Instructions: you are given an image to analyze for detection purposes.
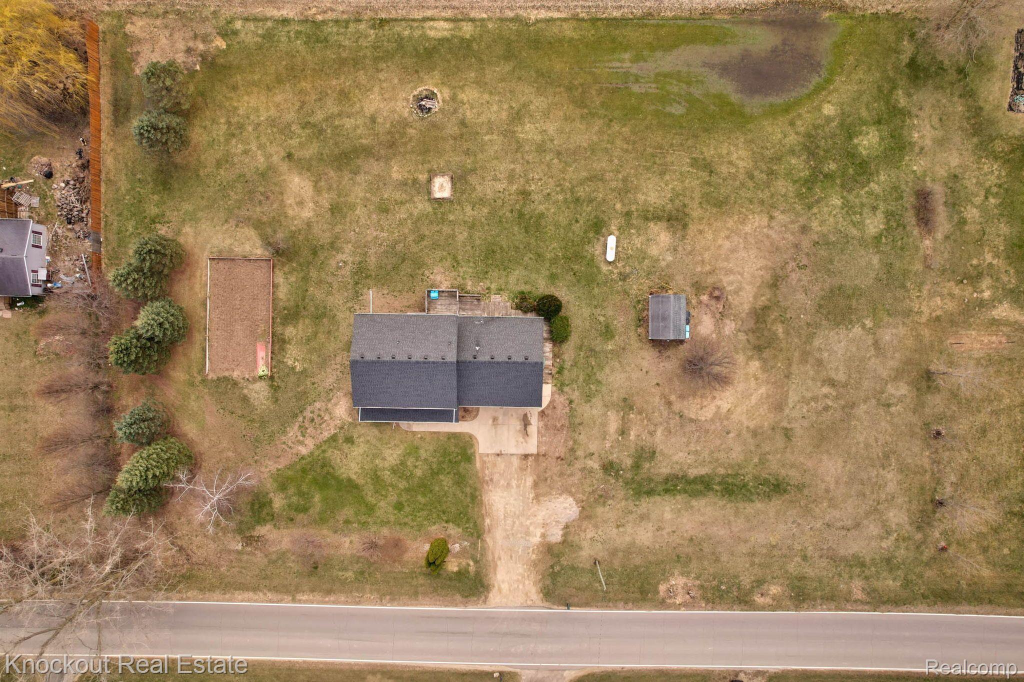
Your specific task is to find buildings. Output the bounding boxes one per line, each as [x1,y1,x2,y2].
[350,311,544,422]
[648,294,686,340]
[0,218,46,297]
